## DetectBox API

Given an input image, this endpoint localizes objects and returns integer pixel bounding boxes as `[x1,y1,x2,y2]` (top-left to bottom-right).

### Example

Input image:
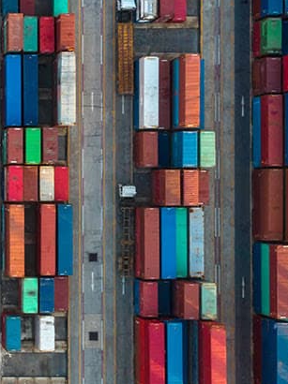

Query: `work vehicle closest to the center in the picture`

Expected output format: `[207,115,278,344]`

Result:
[117,181,135,214]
